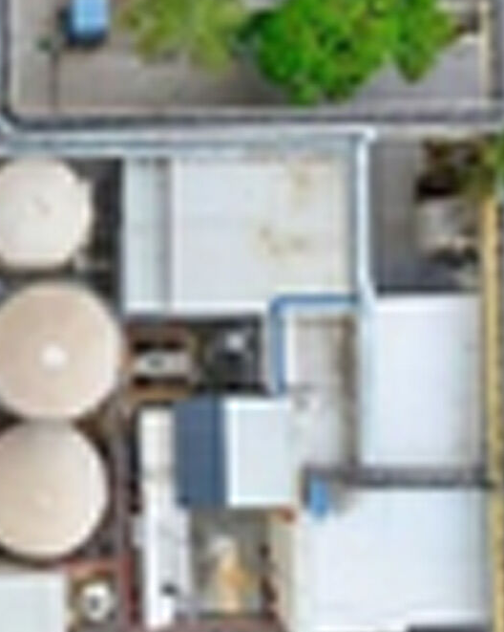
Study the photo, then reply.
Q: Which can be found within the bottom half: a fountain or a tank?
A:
tank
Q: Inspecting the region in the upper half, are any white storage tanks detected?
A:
Yes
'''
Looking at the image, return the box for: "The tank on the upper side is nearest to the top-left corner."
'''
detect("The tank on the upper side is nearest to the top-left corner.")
[0,158,94,277]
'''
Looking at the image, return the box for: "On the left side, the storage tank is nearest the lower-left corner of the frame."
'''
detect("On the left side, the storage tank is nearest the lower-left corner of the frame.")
[0,415,109,558]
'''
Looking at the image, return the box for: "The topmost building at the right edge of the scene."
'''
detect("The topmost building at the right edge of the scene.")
[346,296,486,473]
